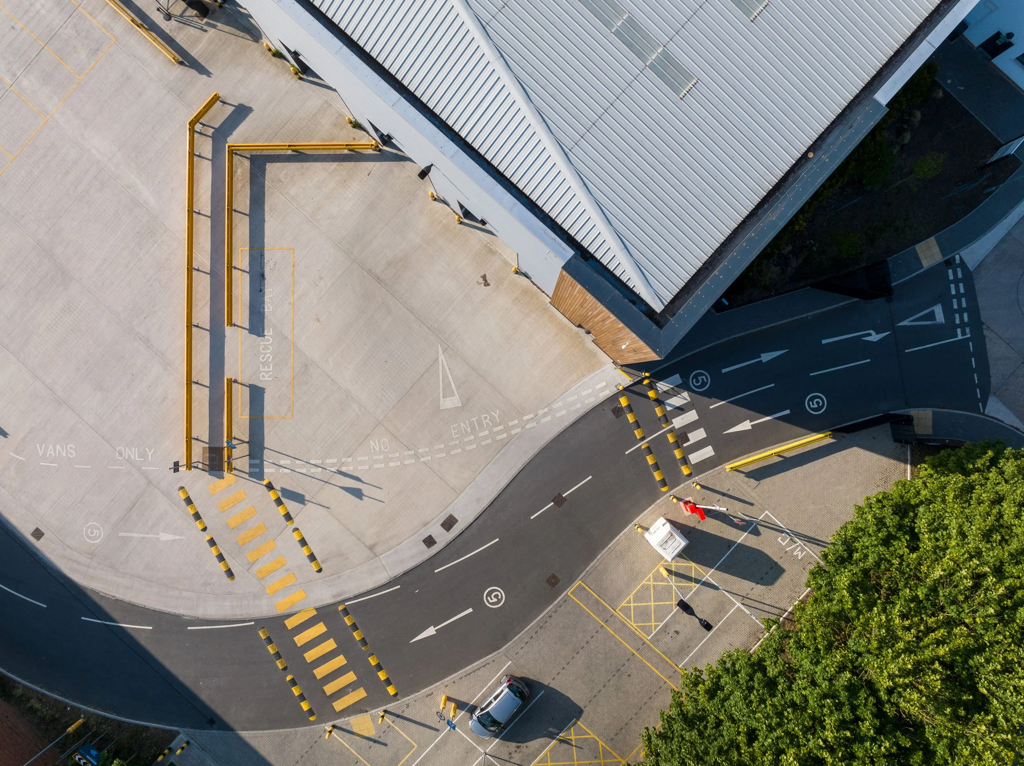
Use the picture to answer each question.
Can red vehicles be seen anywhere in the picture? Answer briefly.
No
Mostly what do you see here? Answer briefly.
paved ground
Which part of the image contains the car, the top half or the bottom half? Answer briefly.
bottom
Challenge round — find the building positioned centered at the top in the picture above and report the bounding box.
[237,0,980,367]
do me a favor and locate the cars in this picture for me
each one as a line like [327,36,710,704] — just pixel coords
[466,674,533,744]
